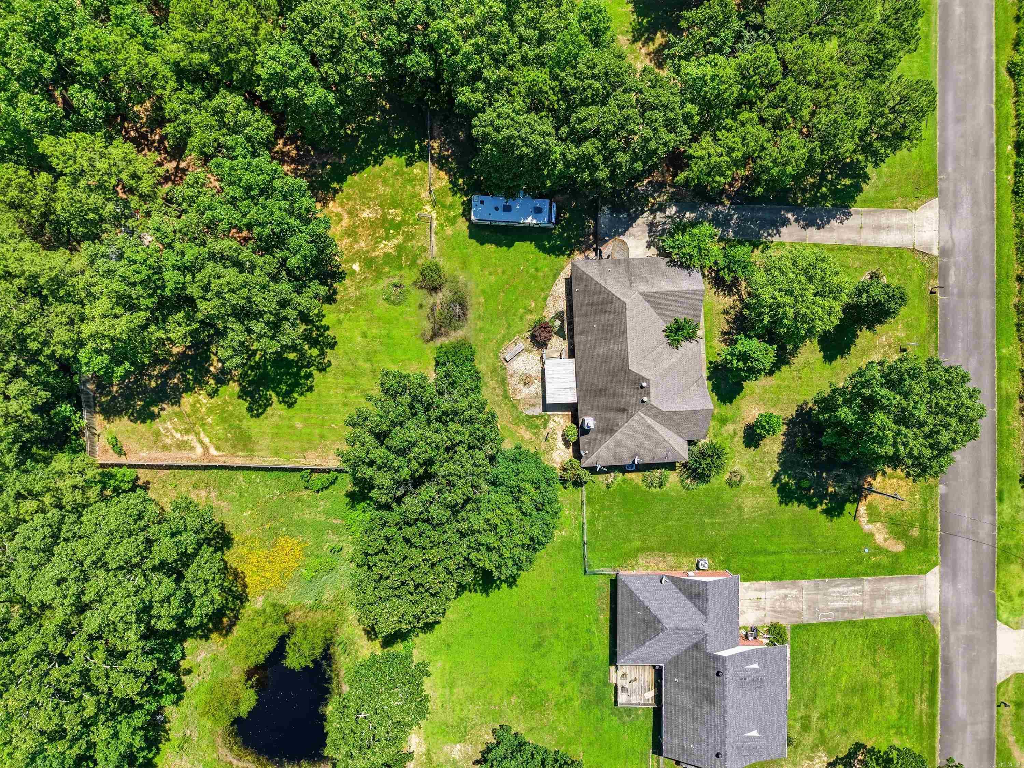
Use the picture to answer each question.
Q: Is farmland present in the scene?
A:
No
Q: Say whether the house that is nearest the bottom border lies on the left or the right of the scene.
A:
right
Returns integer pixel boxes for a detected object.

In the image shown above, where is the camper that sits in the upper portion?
[471,194,557,229]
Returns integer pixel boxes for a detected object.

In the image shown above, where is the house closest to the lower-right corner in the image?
[616,571,789,768]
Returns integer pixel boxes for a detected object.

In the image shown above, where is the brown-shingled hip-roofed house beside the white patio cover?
[571,260,714,470]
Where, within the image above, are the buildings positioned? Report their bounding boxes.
[571,260,714,470]
[616,571,789,768]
